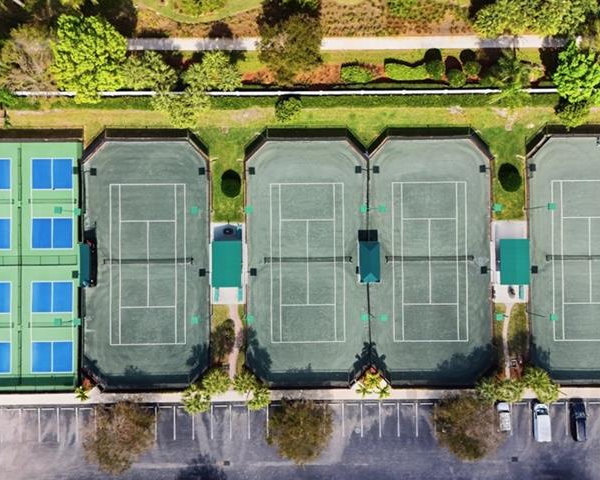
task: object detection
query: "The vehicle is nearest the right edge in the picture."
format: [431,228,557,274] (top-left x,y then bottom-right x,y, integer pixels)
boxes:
[569,400,587,439]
